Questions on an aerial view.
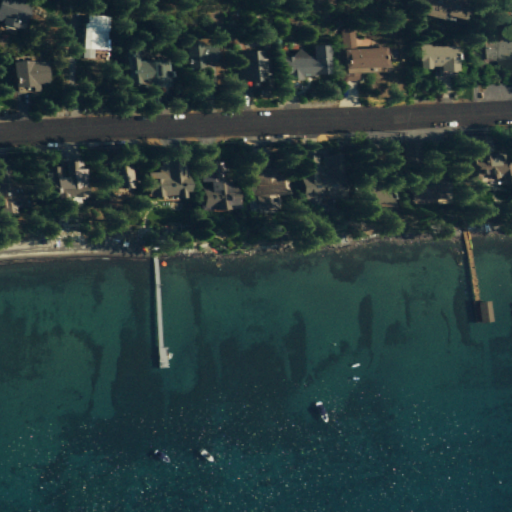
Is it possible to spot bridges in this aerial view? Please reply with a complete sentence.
No, no bridge can be seen from above.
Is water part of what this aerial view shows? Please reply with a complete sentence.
Yes, some water is visible.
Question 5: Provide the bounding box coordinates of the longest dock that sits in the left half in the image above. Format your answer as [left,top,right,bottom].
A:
[152,255,170,367]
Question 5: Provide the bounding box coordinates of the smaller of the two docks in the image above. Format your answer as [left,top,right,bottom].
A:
[462,233,478,302]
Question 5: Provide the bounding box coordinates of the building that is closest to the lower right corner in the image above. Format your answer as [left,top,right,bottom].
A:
[476,300,494,323]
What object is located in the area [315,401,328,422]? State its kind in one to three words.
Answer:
boat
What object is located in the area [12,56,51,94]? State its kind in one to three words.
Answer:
house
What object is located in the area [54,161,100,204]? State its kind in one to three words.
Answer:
house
